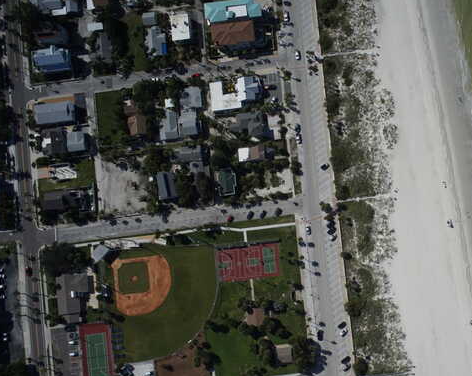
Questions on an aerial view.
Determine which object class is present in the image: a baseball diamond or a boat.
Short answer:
baseball diamond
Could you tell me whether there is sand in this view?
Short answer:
Yes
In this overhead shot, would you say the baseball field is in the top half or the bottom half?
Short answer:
bottom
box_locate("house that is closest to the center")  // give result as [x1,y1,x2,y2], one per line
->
[215,168,238,197]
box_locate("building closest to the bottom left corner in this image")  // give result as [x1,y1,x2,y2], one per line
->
[55,274,89,322]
